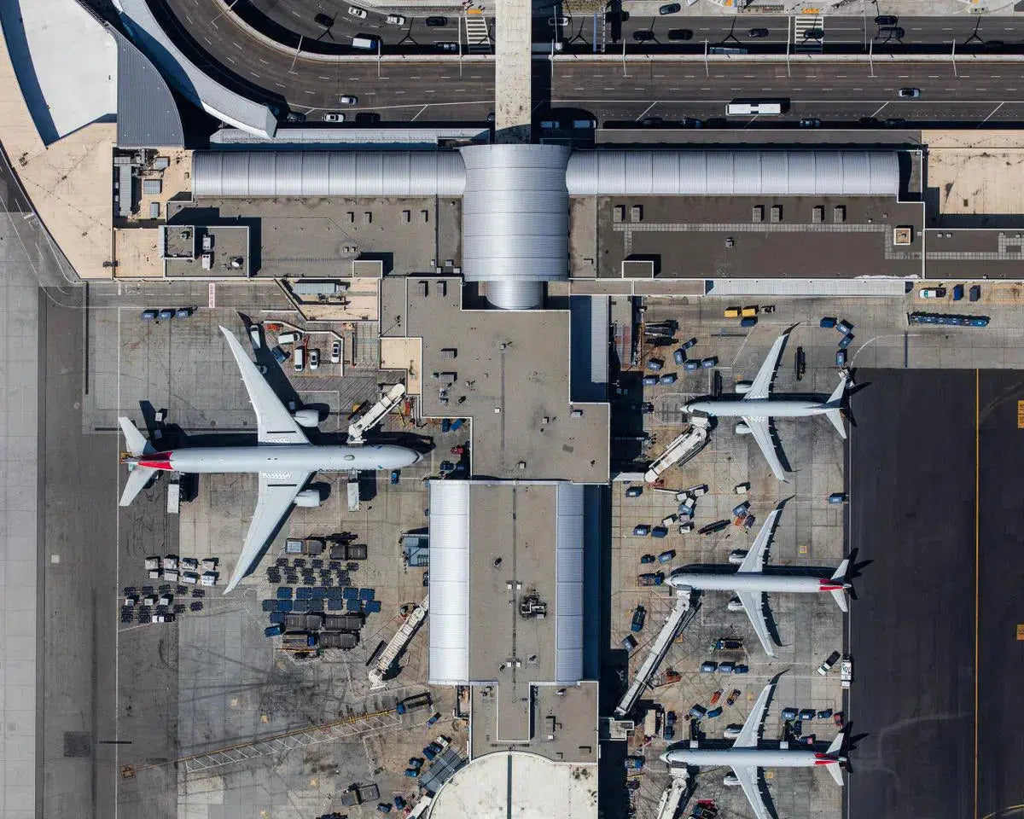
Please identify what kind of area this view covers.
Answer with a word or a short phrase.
airport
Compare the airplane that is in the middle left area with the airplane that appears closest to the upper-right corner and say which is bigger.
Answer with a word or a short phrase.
the airplane that is in the middle left area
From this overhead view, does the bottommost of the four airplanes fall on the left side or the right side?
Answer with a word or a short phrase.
right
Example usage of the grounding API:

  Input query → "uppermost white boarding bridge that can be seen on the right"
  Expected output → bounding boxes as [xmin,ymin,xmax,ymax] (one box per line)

[644,407,709,482]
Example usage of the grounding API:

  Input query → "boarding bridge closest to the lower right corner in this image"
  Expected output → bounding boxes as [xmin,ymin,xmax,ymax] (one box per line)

[651,756,690,819]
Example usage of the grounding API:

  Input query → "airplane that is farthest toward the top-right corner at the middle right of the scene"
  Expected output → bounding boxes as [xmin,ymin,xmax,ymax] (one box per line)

[680,333,851,485]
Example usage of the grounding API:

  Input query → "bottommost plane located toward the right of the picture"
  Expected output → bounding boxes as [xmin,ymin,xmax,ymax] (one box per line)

[659,683,846,819]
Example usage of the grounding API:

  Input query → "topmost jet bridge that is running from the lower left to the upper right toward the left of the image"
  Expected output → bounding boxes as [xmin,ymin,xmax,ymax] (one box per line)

[346,382,407,447]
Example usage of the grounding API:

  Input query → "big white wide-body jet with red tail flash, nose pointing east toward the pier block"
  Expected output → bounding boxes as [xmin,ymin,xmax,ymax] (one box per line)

[118,325,423,595]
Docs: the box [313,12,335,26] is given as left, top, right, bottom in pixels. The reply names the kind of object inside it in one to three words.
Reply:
car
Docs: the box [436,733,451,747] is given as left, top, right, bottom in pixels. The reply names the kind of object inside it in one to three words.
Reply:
work vehicle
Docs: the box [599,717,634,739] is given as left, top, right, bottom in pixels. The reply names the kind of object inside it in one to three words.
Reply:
building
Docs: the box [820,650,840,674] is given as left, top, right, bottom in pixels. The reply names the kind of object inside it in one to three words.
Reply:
vehicle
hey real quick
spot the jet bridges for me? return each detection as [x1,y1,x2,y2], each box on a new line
[366,593,429,692]
[644,407,709,482]
[346,382,407,447]
[615,584,695,718]
[651,756,690,819]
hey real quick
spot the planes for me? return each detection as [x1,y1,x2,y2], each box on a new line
[118,325,423,595]
[680,333,851,485]
[659,683,846,819]
[664,509,851,660]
